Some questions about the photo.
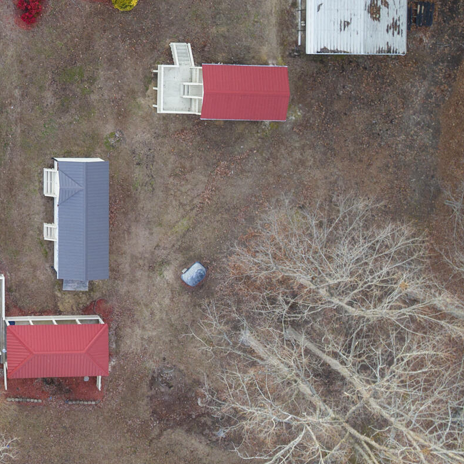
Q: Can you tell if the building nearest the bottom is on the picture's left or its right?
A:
left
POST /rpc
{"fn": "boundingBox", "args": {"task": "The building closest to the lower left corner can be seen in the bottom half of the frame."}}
[2,306,110,391]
